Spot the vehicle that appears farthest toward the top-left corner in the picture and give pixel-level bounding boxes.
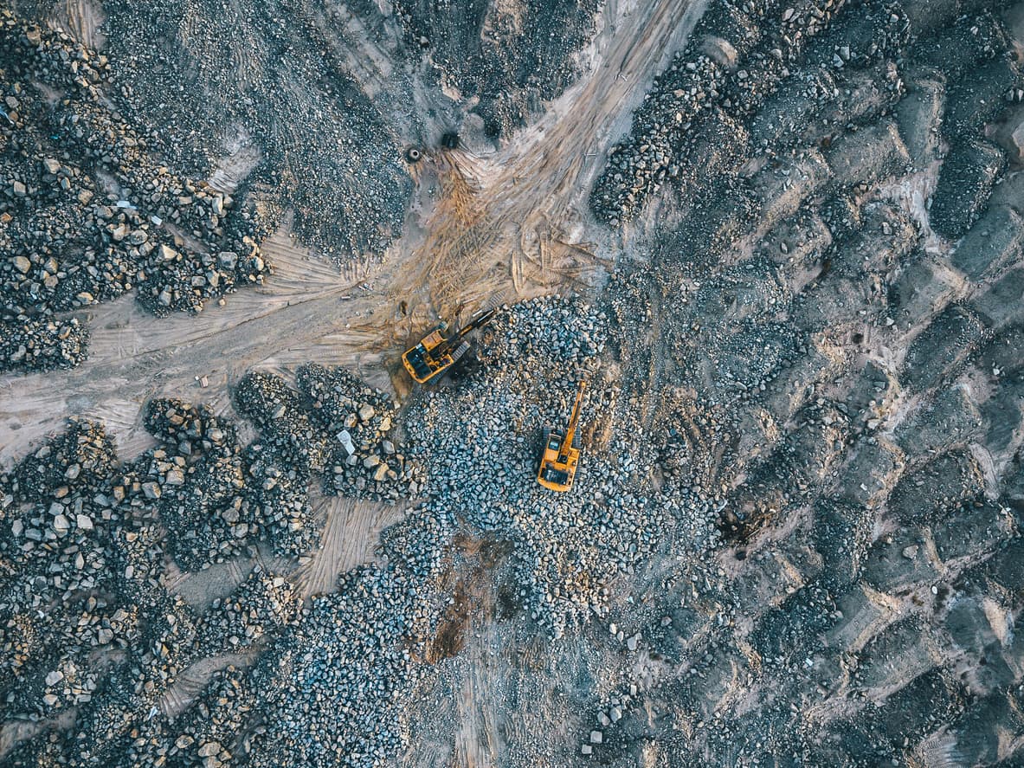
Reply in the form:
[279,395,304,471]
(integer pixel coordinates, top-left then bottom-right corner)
[402,308,505,389]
